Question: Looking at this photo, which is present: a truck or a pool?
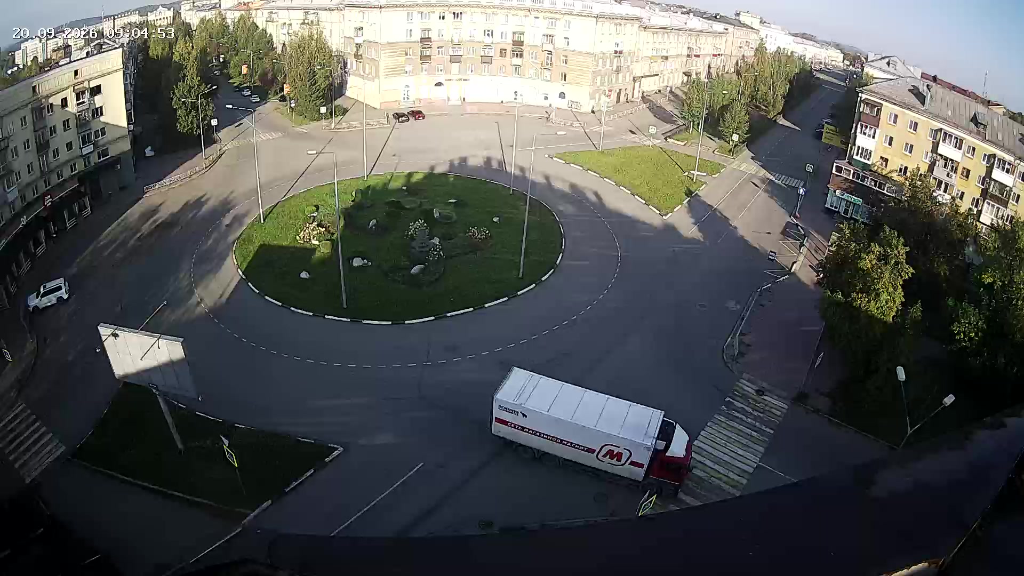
truck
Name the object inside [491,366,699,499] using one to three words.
truck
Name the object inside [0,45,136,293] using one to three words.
building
